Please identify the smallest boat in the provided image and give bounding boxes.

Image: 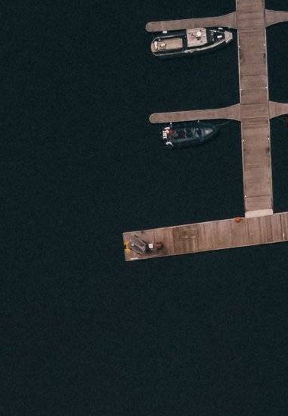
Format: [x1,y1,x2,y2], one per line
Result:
[162,121,215,149]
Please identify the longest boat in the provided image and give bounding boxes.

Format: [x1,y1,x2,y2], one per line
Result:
[151,27,232,59]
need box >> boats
[162,121,215,149]
[151,27,232,59]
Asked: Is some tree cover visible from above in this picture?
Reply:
No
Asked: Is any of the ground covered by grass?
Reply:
No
